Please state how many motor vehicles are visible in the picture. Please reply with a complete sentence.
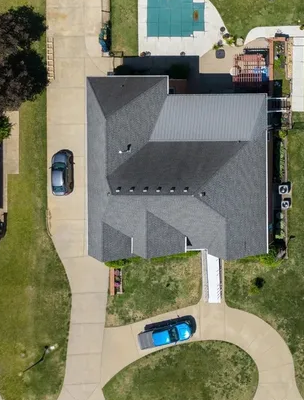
In total, there are 2 motor vehicles in the scene.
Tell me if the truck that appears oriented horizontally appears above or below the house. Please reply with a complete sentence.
In the image, the truck that appears oriented horizontally appears below the house.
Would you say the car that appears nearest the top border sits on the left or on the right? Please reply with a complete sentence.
The car that appears nearest the top border appears in the left half of the scene.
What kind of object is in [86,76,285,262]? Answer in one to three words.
house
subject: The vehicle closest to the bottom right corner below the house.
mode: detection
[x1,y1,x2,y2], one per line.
[135,317,196,351]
